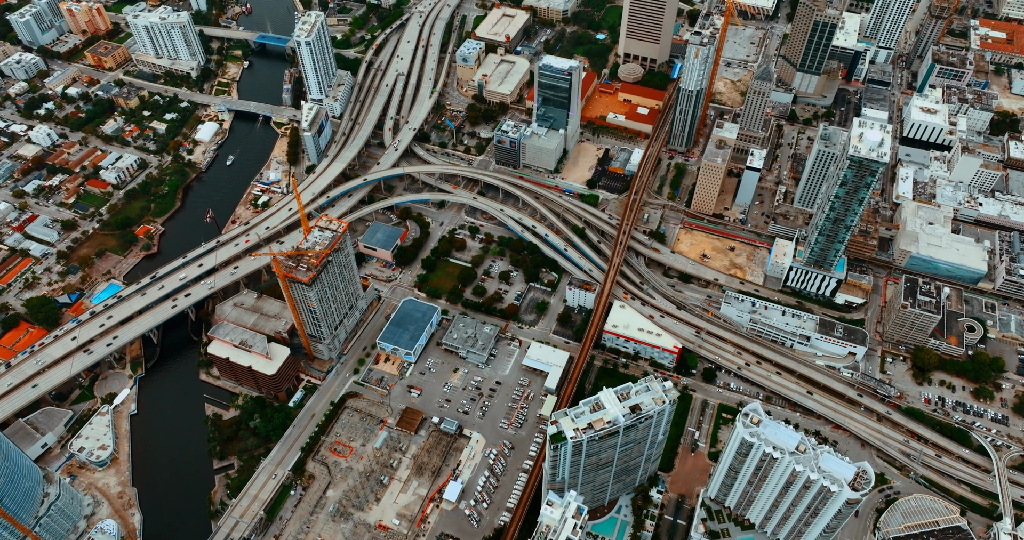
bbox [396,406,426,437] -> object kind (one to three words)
shed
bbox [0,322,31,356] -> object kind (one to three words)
house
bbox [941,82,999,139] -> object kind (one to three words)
building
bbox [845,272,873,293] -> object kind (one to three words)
building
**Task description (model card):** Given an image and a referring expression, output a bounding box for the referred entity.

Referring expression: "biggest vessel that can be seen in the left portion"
[282,69,296,102]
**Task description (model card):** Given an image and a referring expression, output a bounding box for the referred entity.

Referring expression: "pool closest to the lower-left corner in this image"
[86,281,127,305]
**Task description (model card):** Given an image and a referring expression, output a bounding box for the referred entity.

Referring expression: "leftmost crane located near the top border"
[695,0,757,145]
